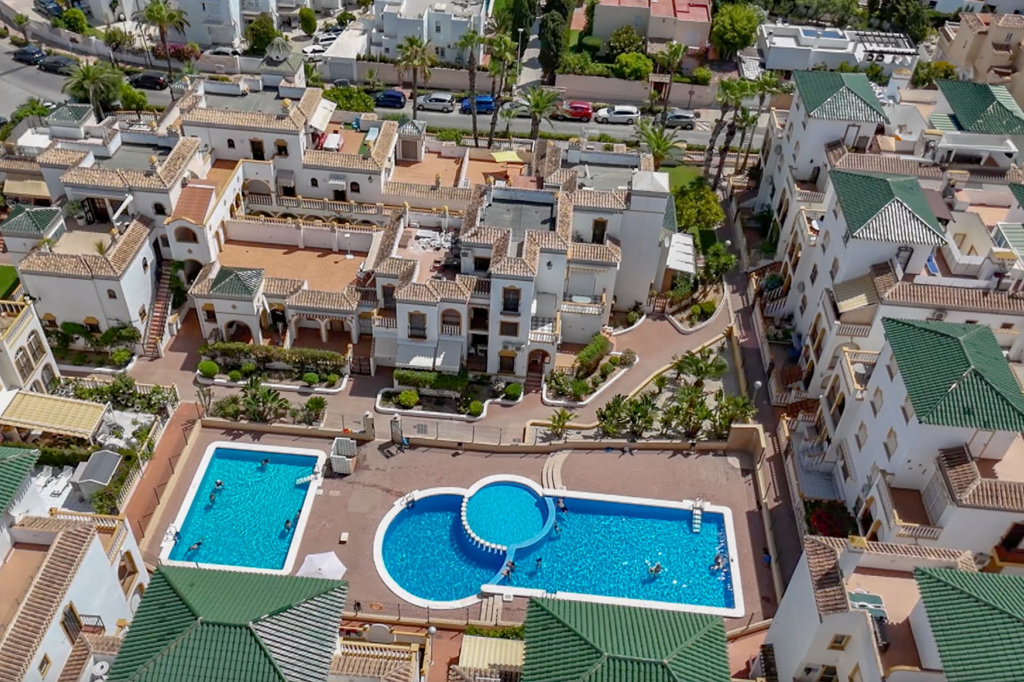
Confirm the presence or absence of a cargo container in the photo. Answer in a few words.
No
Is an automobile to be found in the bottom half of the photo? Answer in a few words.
No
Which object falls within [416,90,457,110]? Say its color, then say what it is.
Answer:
gray car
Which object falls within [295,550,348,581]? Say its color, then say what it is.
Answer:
white umbrella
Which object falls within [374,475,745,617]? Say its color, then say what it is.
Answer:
blue swimming pool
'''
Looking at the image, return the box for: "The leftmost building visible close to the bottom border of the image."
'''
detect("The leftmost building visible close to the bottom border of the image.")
[0,510,148,682]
